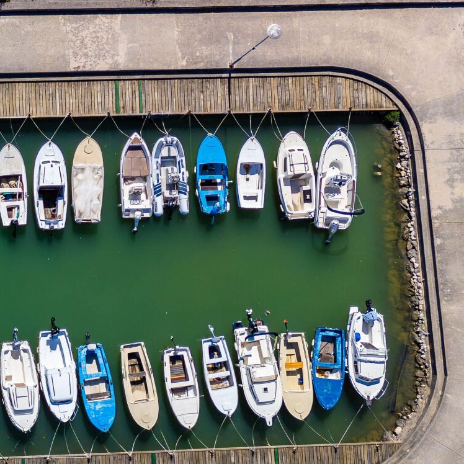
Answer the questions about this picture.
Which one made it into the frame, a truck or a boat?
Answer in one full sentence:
I can see a boat in this picture.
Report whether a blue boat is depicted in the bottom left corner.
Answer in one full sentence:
Yes, a blue boat shows up in the bottom left corner.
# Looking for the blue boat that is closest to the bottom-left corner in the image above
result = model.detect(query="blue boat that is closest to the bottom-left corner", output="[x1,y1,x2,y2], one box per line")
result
[78,333,115,431]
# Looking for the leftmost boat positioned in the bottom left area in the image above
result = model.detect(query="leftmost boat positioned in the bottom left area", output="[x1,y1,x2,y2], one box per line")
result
[0,327,40,431]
